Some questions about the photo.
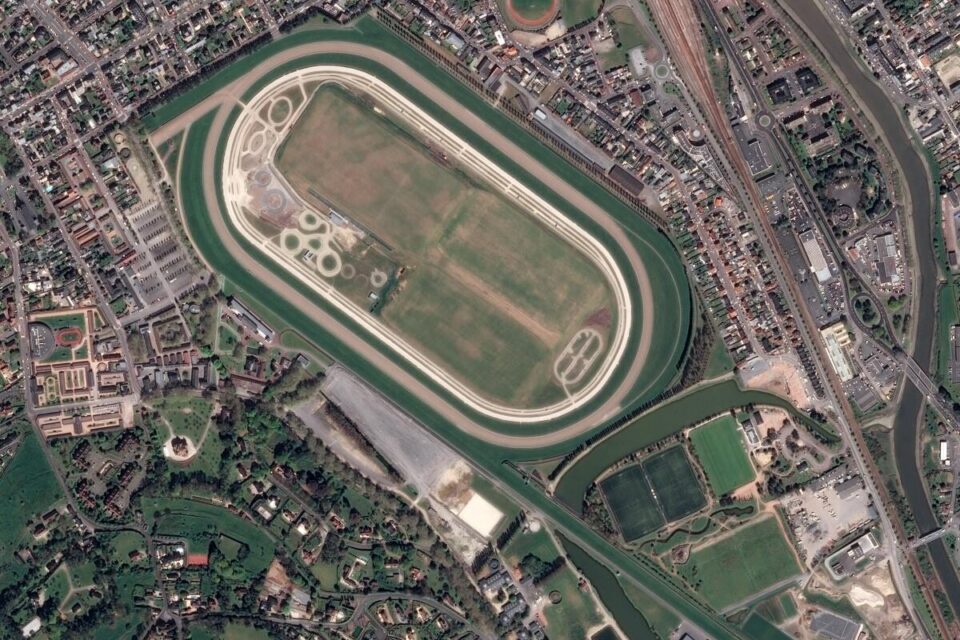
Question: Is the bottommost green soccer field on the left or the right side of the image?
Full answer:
You can find the bottommost green soccer field on the right side of the picture.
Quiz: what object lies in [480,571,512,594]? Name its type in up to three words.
house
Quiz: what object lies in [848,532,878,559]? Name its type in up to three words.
building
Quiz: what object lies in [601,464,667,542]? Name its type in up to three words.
soccer field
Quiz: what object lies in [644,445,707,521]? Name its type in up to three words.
soccer field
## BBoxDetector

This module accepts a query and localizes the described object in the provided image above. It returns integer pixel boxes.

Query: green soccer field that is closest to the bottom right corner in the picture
[688,415,759,495]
